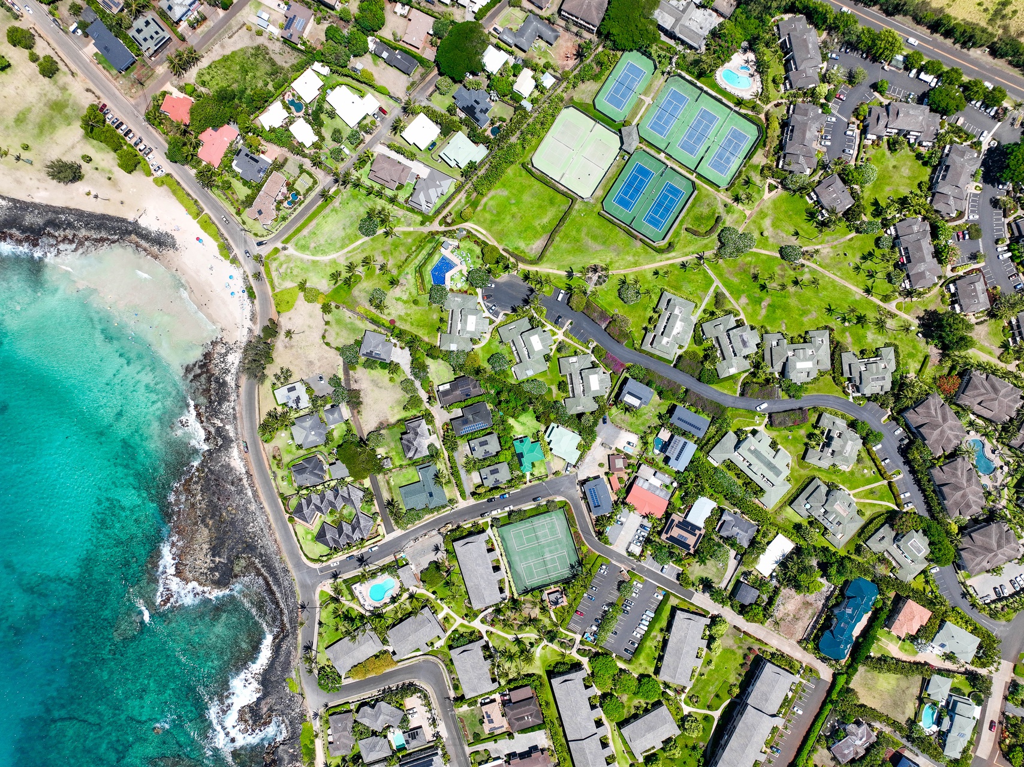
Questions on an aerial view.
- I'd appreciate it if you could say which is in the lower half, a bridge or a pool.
pool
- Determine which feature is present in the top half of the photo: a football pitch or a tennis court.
tennis court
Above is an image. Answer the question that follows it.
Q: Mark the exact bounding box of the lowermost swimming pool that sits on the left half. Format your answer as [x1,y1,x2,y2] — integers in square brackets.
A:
[388,728,406,751]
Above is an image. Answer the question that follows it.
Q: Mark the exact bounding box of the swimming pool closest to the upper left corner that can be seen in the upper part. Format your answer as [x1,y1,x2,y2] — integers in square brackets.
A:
[285,93,305,115]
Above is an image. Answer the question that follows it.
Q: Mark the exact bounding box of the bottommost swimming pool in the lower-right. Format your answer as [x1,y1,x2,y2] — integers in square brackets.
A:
[920,702,939,732]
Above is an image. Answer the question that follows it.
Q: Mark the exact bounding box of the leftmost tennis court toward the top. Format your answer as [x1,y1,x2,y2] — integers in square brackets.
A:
[532,103,622,199]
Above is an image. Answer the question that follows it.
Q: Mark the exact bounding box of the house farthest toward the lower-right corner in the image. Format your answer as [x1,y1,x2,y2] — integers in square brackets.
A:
[937,694,981,759]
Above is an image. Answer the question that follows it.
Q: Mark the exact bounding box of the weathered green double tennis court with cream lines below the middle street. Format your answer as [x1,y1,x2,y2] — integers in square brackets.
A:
[495,510,578,597]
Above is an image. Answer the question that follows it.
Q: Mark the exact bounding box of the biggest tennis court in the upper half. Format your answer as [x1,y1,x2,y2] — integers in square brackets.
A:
[639,72,767,188]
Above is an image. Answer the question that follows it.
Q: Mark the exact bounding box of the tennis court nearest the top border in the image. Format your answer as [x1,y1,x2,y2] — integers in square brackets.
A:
[594,48,658,122]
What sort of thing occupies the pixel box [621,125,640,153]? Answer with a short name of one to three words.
building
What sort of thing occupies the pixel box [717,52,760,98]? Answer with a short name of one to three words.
swimming pool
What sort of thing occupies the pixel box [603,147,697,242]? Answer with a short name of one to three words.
tennis court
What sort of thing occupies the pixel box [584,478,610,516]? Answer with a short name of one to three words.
house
